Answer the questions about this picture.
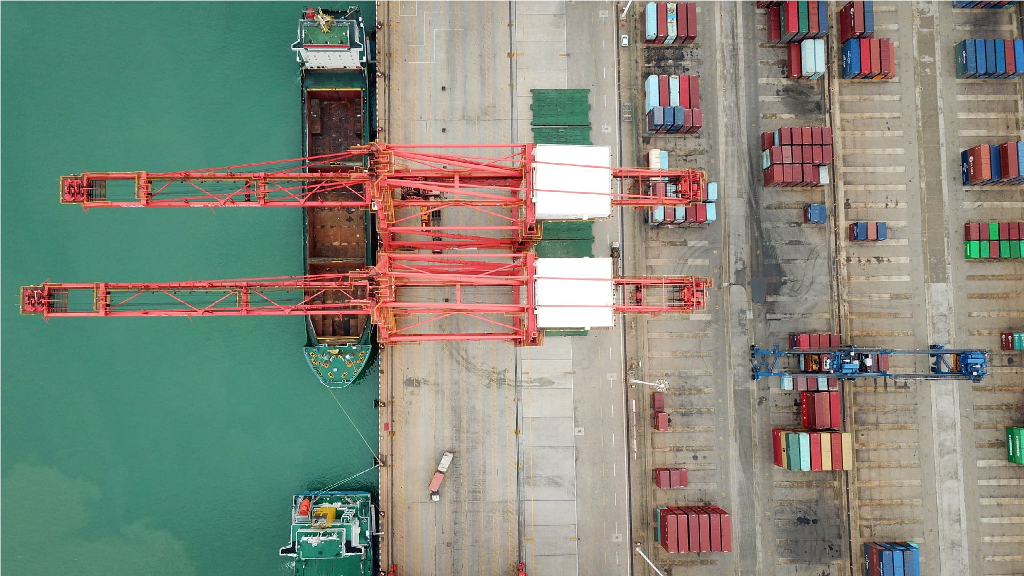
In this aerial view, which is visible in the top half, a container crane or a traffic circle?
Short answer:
container crane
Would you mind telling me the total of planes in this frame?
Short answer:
none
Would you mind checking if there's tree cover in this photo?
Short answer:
No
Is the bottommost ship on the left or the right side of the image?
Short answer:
left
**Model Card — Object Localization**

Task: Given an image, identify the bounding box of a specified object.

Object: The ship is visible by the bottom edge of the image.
[280,481,384,576]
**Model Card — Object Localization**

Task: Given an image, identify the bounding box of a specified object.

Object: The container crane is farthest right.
[852,343,993,383]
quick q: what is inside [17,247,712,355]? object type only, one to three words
container crane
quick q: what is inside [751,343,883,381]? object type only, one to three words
container crane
